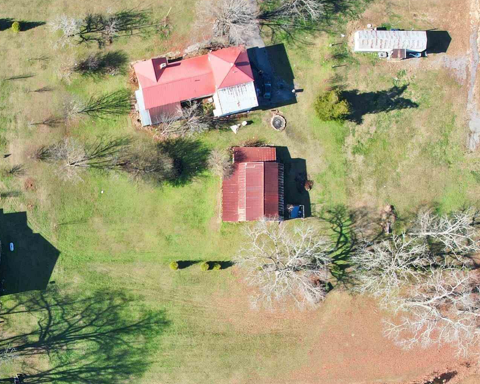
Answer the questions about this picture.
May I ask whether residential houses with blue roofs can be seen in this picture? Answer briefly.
No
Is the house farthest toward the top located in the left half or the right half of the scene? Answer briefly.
right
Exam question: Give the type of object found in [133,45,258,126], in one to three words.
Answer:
house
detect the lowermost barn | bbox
[222,162,284,222]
